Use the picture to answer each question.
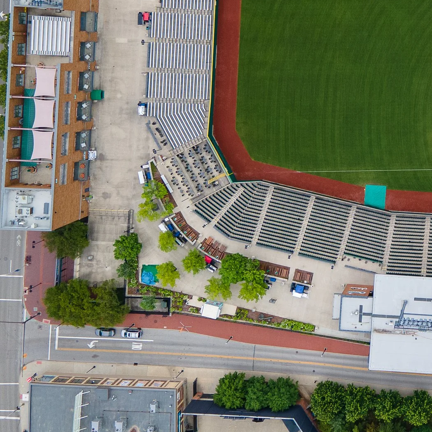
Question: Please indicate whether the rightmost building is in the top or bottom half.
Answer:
bottom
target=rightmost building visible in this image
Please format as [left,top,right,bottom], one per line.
[333,286,374,334]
